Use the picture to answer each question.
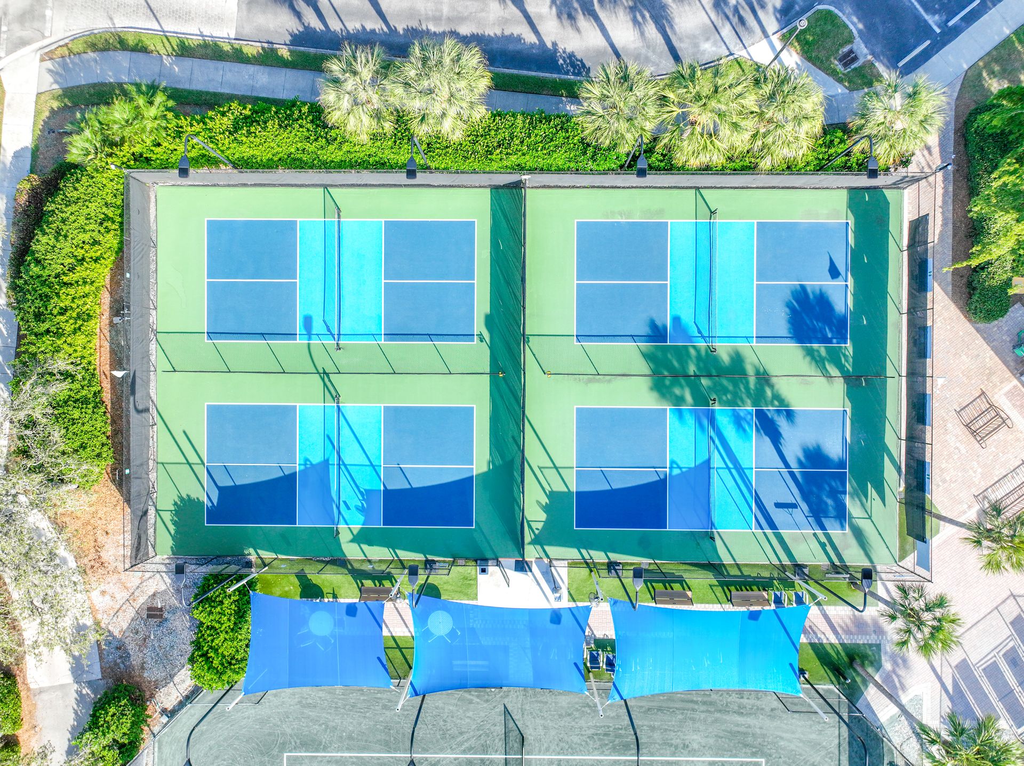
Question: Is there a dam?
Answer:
No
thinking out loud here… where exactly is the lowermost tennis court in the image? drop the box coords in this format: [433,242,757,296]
[157,685,893,766]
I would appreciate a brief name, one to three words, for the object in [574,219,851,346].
sports court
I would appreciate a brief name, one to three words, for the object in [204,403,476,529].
sports court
